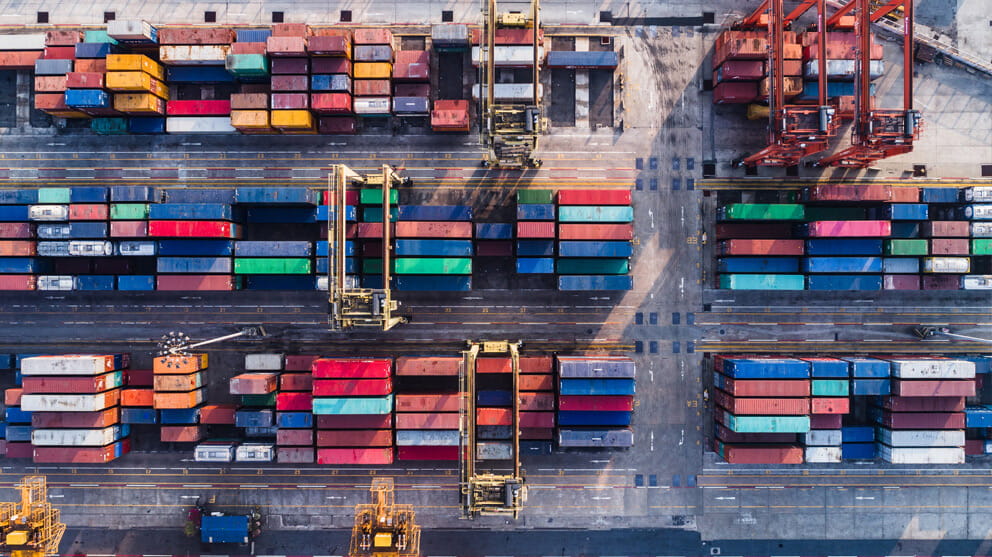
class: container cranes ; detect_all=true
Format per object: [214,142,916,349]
[324,158,420,339]
[452,342,531,530]
[473,0,549,165]
[720,0,833,165]
[337,477,429,557]
[792,0,920,165]
[0,476,80,557]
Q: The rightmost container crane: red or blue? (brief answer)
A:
red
